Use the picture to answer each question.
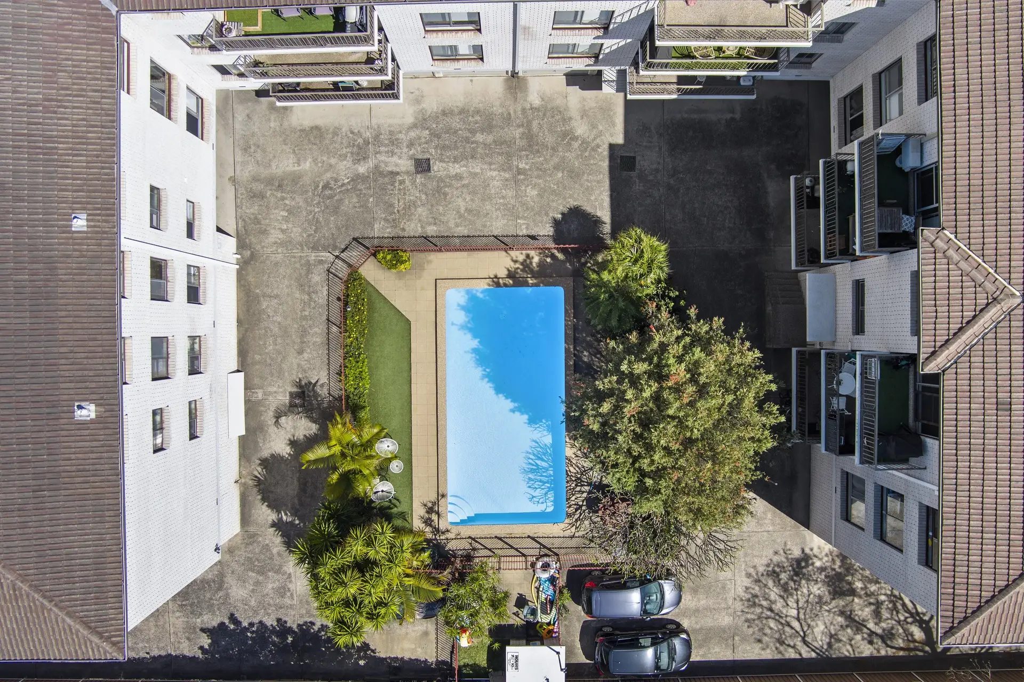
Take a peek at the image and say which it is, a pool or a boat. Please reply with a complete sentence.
The one in the frame is a pool.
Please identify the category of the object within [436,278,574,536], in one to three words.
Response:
swimming pool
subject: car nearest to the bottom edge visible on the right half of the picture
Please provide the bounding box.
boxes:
[591,623,691,680]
